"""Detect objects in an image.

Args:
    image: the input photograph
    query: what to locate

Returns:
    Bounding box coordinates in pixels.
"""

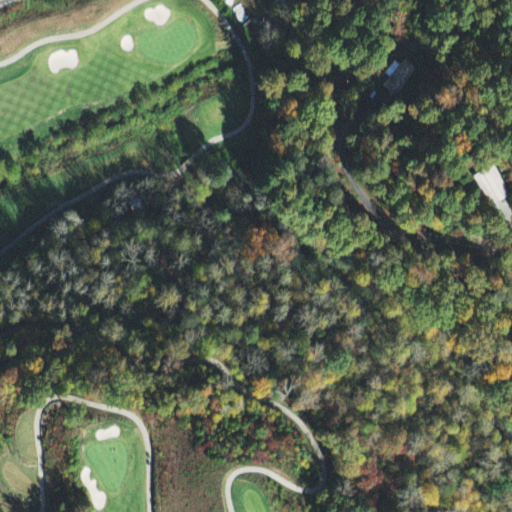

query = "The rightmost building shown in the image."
[474,166,505,202]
